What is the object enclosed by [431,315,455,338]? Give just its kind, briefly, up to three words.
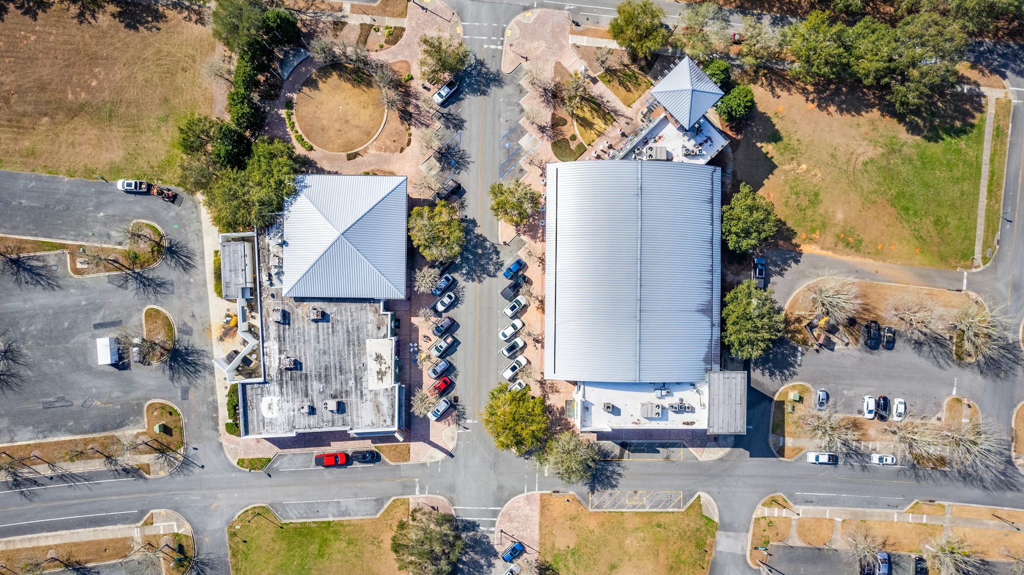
car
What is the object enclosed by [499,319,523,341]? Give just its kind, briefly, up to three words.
car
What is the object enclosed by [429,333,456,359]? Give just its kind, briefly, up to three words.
truck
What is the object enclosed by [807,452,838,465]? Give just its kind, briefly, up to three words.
vehicle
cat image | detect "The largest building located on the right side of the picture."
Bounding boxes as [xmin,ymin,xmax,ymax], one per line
[544,160,721,384]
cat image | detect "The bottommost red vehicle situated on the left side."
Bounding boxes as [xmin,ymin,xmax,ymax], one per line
[314,453,348,467]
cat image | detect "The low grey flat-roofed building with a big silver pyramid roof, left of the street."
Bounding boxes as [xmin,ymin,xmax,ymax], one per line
[238,175,408,438]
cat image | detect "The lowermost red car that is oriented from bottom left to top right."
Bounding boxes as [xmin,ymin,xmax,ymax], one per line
[430,376,451,397]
